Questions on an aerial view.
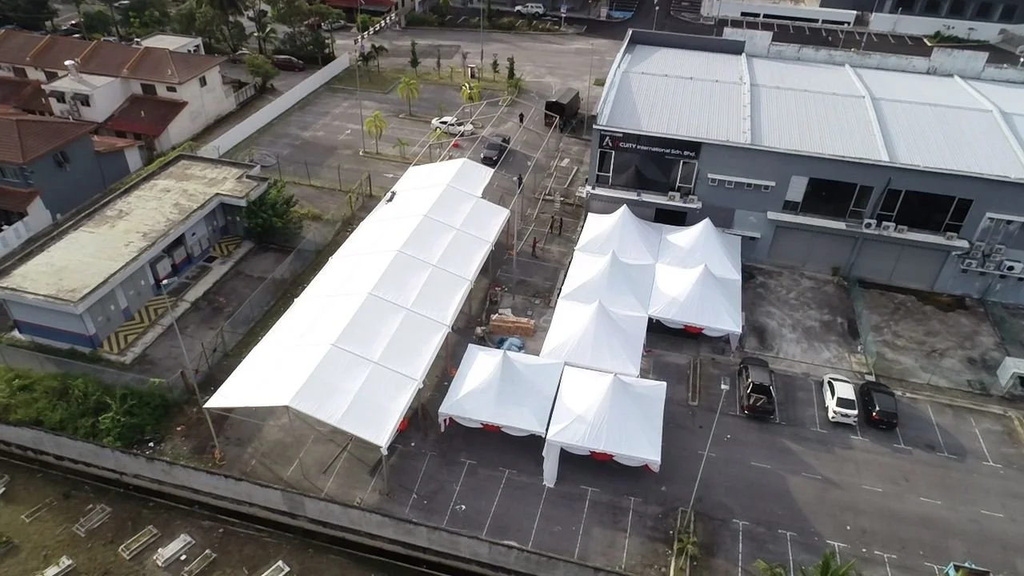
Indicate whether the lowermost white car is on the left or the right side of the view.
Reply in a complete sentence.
You can find the lowermost white car on the right side of the picture.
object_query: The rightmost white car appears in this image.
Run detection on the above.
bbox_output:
[815,364,861,422]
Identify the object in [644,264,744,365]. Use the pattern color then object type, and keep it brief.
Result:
white tent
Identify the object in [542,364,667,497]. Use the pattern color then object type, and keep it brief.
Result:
white tent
